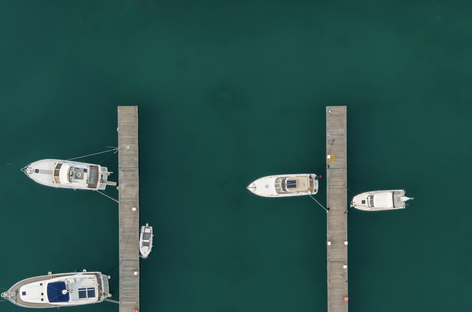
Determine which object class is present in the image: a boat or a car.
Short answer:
boat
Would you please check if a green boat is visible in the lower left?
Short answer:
No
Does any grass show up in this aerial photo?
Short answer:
No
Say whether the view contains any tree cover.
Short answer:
No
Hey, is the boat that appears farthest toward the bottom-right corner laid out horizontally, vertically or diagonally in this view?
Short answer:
horizontally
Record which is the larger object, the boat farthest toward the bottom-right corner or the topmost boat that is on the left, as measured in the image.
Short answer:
the topmost boat that is on the left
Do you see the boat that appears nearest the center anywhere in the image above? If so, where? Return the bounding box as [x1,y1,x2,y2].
[248,174,327,211]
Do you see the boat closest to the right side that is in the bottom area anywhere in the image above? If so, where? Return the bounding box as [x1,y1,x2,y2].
[346,187,414,212]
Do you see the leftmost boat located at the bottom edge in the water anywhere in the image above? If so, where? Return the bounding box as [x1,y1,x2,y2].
[1,265,119,308]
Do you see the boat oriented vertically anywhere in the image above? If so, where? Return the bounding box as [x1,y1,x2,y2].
[139,222,153,258]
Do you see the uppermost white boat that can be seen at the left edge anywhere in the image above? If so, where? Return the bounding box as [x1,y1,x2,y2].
[22,148,119,202]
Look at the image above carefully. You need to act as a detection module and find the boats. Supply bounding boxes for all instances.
[346,187,414,212]
[22,148,119,202]
[1,265,119,308]
[139,222,153,258]
[248,174,327,211]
